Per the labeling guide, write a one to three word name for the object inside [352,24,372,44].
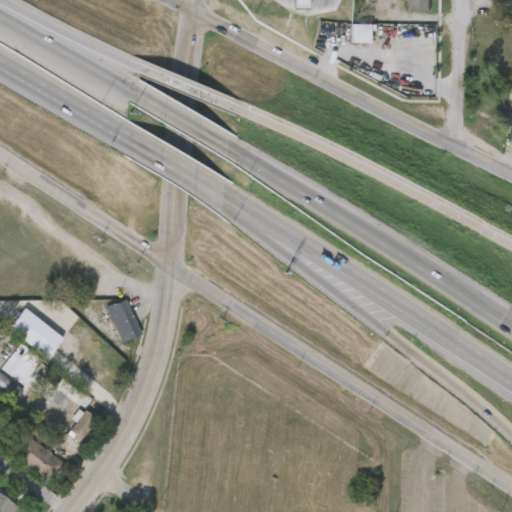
building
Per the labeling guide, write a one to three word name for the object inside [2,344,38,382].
house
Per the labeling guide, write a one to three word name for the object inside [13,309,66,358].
building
